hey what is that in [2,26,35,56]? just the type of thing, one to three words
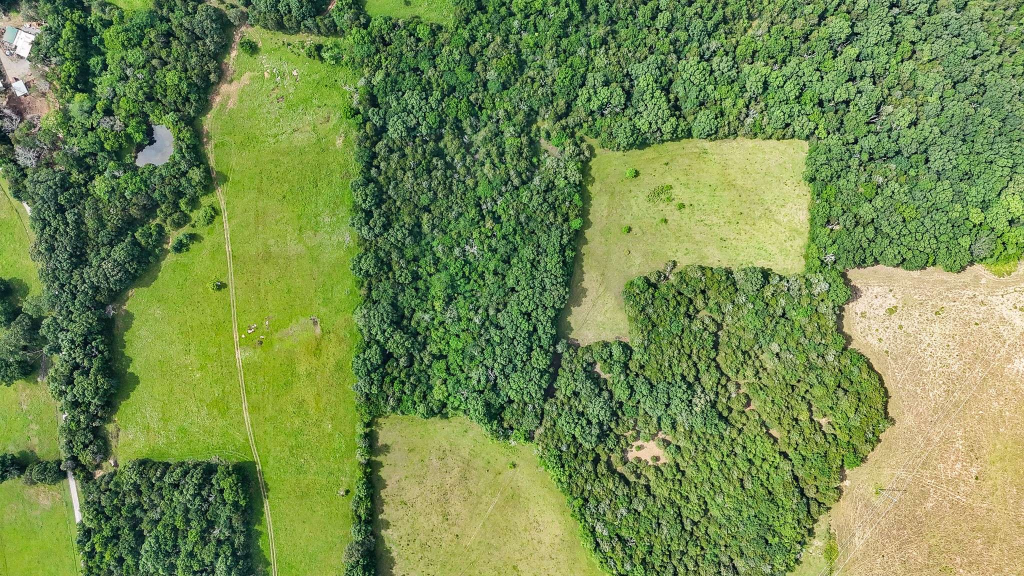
house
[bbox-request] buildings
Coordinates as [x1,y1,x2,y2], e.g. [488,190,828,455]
[12,80,31,98]
[2,26,35,56]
